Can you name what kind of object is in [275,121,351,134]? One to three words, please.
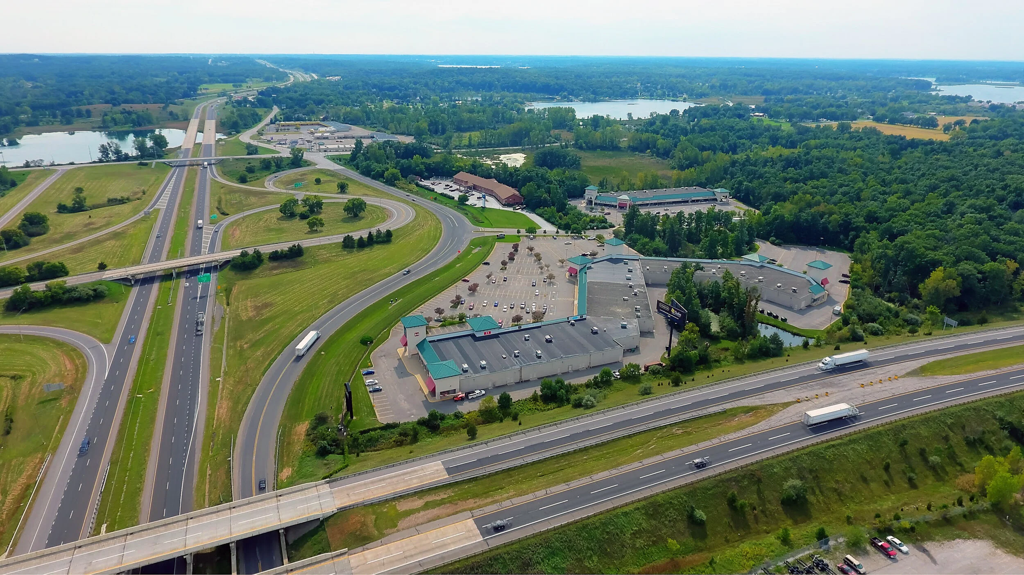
building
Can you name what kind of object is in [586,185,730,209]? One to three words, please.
building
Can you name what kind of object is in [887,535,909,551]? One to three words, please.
car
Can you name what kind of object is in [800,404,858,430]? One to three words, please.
truck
